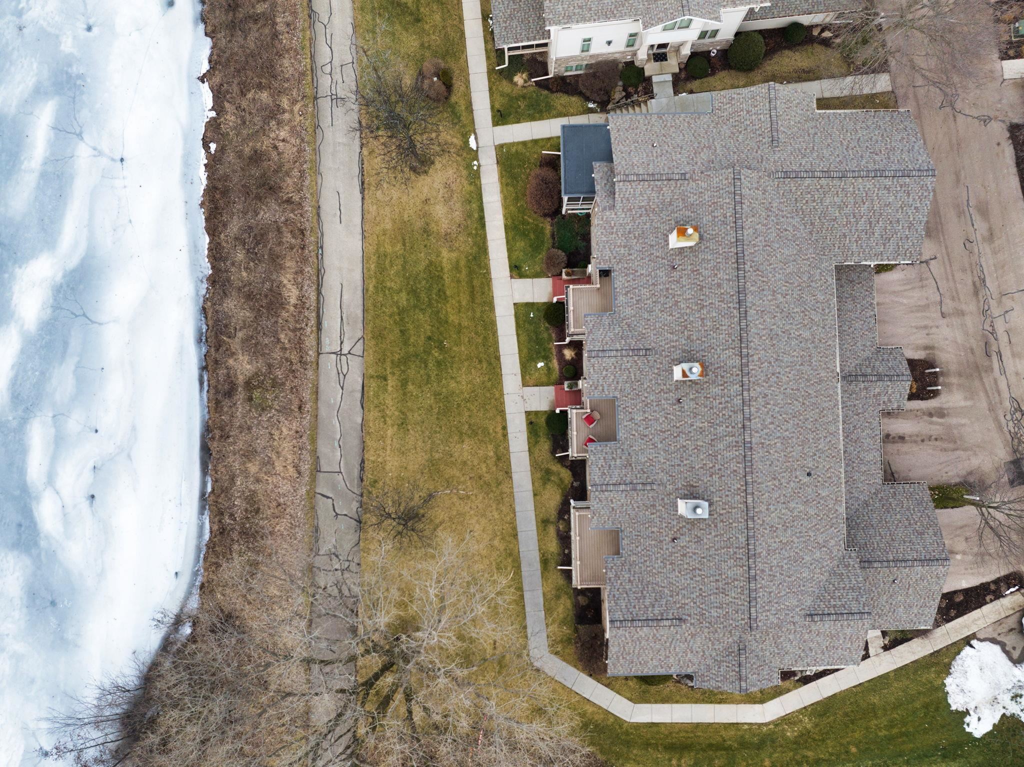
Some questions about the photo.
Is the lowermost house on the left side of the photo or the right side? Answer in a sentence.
The lowermost house appears in the right half of the scene.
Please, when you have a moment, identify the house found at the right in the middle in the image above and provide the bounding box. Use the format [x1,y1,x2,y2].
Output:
[543,84,951,695]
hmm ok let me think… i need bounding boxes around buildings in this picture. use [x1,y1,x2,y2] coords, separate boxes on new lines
[491,0,864,81]
[543,84,951,695]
